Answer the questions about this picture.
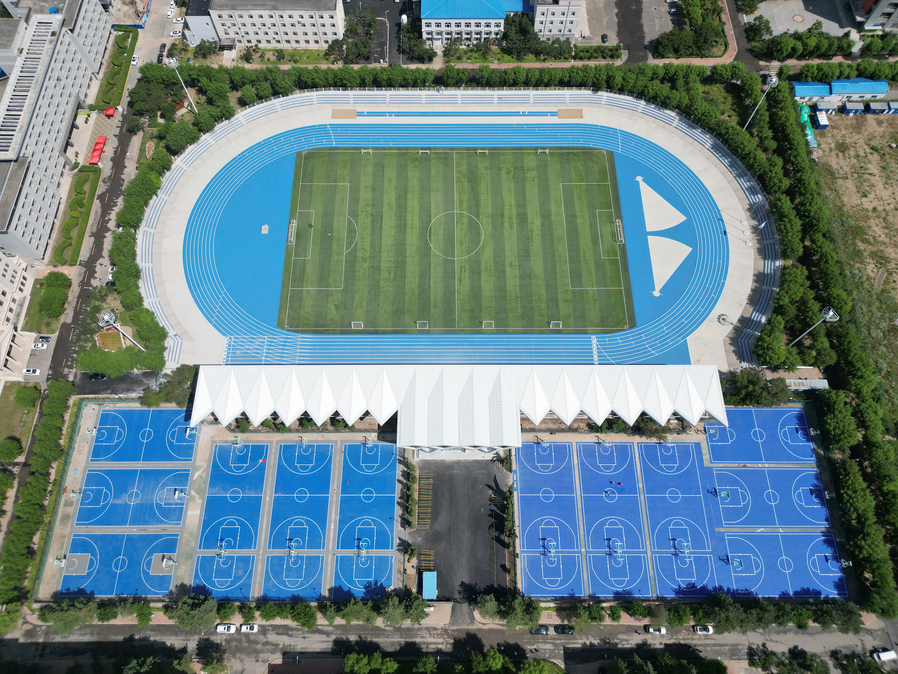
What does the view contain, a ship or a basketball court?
basketball court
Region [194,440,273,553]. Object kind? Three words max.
basketball court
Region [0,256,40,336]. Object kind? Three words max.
building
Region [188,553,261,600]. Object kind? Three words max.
basketball court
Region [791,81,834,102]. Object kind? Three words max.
shed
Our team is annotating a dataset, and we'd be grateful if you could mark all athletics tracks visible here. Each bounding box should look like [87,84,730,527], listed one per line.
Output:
[182,124,729,365]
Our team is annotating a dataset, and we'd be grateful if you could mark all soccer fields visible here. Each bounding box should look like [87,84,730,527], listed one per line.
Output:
[277,147,636,334]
